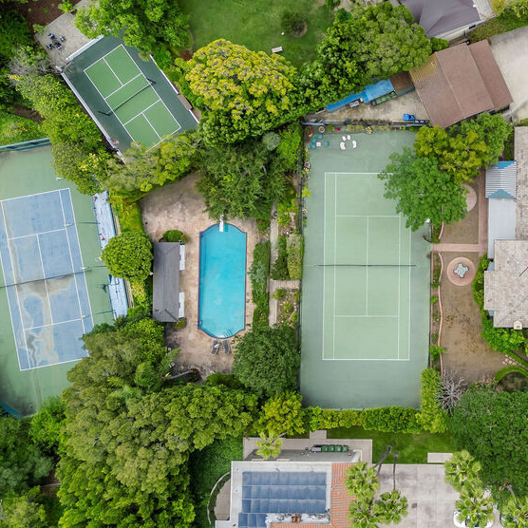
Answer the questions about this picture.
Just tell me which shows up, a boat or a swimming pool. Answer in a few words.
swimming pool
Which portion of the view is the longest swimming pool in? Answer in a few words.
center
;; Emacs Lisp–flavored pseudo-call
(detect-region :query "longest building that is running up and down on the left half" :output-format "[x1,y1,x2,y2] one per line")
[153,241,185,323]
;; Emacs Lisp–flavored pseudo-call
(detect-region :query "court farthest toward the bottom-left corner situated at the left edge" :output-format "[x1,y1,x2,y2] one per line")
[0,145,138,420]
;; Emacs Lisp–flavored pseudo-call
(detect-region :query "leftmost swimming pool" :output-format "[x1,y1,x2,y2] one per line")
[196,219,248,342]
